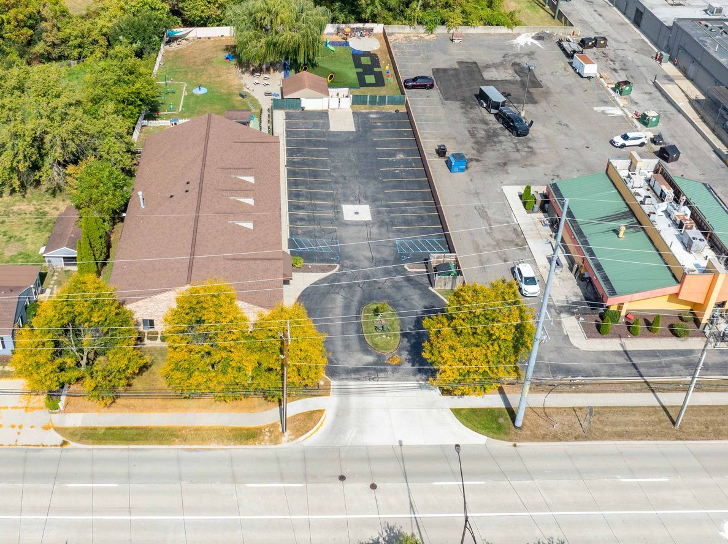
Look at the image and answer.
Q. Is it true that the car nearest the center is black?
No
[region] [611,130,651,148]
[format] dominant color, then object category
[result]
white car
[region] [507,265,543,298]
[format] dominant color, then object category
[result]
white car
